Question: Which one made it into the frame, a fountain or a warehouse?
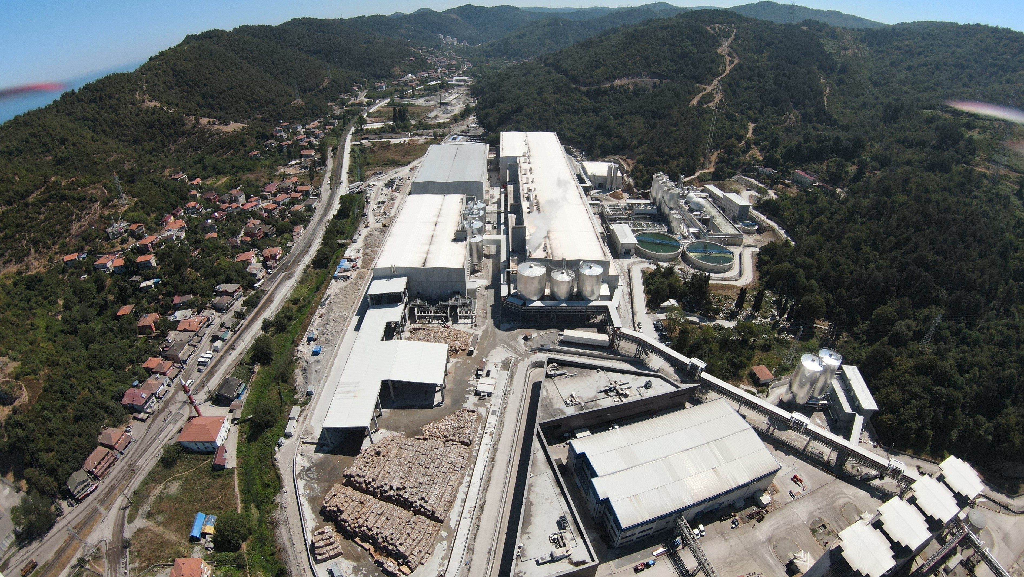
warehouse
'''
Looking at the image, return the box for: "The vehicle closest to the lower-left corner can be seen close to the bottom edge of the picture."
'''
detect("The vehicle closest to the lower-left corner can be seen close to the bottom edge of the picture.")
[16,556,35,575]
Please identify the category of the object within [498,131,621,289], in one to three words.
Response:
building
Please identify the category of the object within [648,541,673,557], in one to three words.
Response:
vehicle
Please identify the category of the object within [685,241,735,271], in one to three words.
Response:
storage tank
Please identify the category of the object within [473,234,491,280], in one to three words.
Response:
silo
